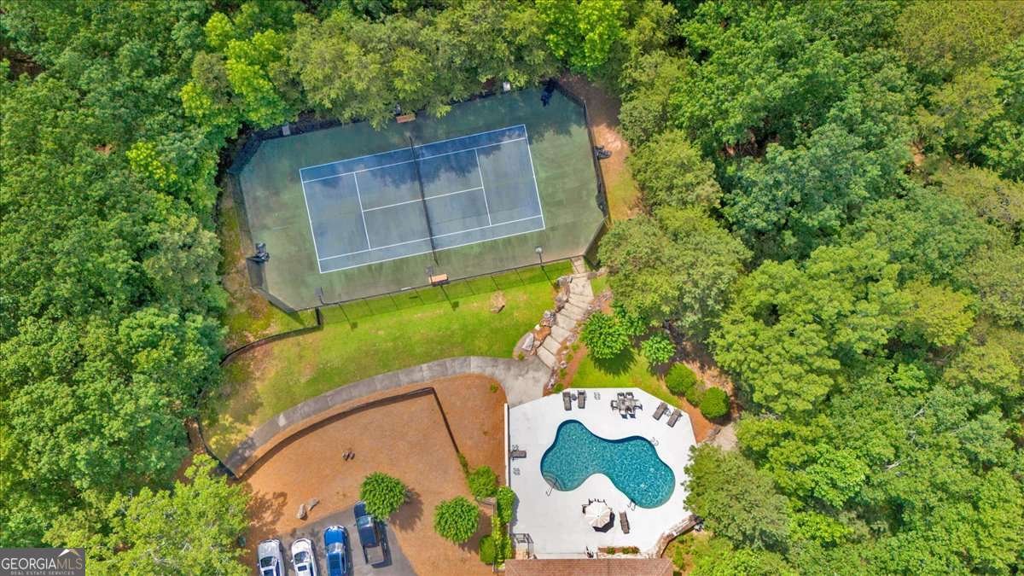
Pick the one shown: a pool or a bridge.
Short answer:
pool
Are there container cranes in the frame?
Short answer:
No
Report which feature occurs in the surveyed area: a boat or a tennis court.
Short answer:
tennis court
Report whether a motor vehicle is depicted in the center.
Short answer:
No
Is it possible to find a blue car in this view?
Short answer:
Yes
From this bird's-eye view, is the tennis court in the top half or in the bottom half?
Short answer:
top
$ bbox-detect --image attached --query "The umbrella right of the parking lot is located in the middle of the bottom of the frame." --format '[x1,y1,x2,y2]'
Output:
[585,500,611,526]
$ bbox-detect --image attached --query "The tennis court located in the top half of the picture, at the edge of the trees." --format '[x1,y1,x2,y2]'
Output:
[240,84,608,310]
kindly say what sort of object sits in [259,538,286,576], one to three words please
car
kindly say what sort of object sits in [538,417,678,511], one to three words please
swimming pool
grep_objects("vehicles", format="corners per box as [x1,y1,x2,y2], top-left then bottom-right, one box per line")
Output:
[291,536,317,576]
[259,538,286,576]
[353,501,385,565]
[323,524,349,576]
